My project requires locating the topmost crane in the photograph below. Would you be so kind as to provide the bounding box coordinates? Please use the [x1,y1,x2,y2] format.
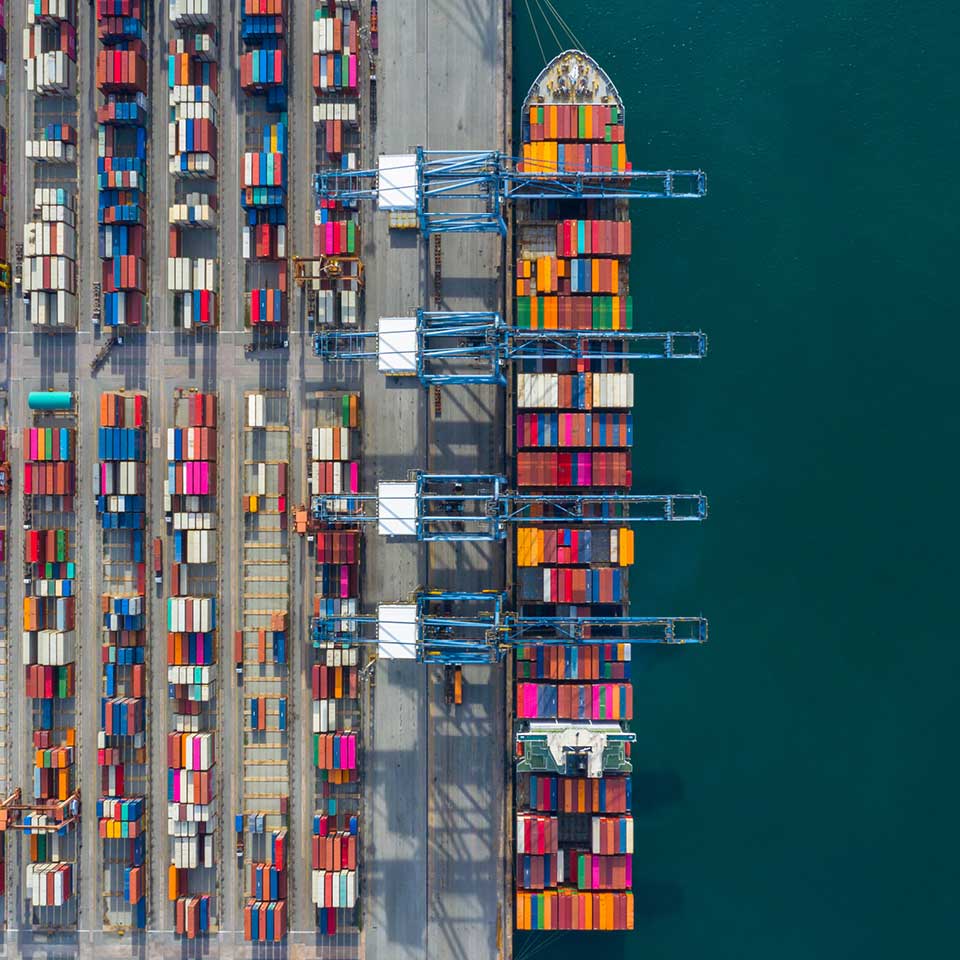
[311,147,708,257]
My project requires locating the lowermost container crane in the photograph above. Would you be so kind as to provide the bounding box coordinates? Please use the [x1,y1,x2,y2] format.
[0,789,82,831]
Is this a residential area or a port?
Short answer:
port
